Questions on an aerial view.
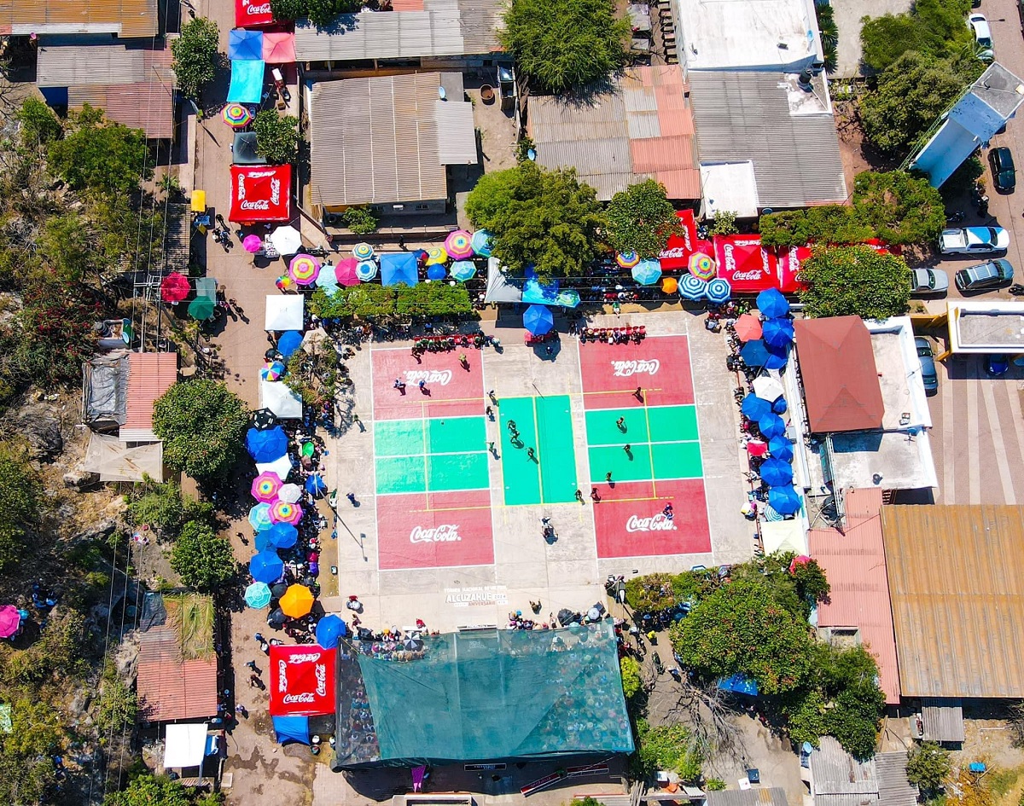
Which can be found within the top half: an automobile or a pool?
automobile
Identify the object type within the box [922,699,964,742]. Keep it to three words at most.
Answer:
shed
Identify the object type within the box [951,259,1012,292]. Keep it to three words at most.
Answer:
car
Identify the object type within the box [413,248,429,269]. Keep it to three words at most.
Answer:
umbrella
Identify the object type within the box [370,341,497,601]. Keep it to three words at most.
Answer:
sports court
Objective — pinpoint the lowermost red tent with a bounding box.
[270,644,335,716]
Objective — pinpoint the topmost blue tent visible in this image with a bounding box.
[228,31,268,74]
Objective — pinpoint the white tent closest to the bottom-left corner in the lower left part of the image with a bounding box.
[163,720,216,767]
